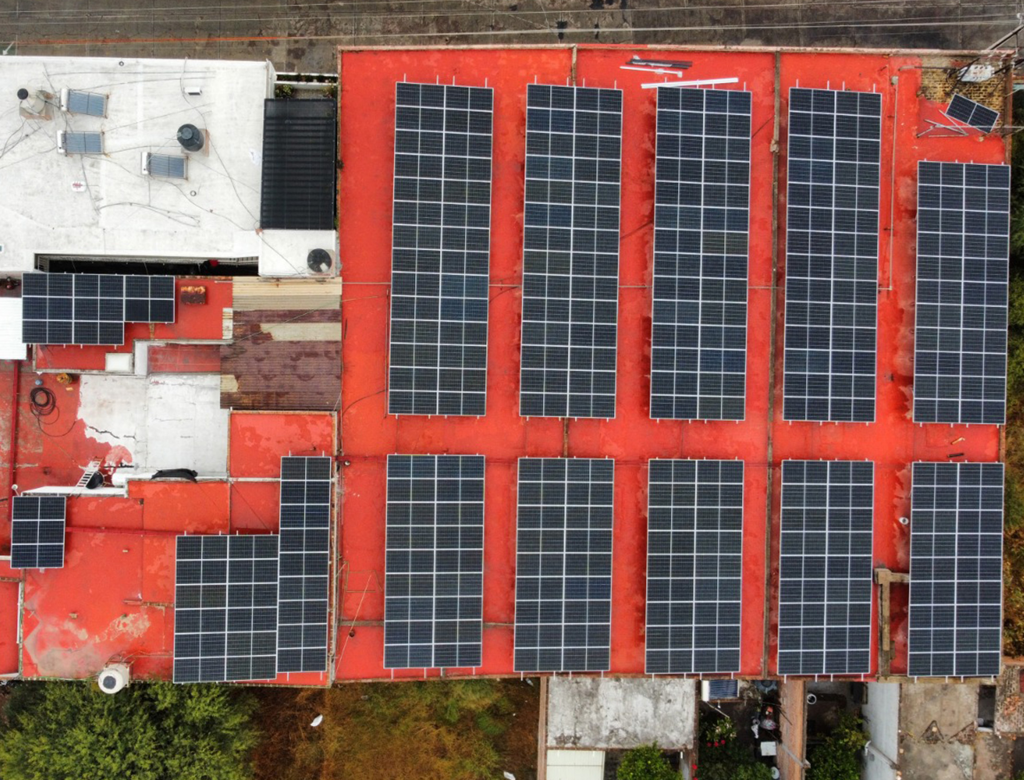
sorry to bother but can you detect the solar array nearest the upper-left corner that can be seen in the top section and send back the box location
[22,271,175,351]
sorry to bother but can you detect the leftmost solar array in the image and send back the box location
[11,496,70,569]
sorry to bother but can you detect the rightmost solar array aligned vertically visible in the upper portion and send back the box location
[909,158,1011,428]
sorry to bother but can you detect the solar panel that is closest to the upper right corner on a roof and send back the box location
[945,93,998,135]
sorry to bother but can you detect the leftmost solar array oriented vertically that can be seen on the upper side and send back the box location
[388,73,493,420]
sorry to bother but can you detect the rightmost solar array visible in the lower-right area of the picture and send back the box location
[905,460,1005,683]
